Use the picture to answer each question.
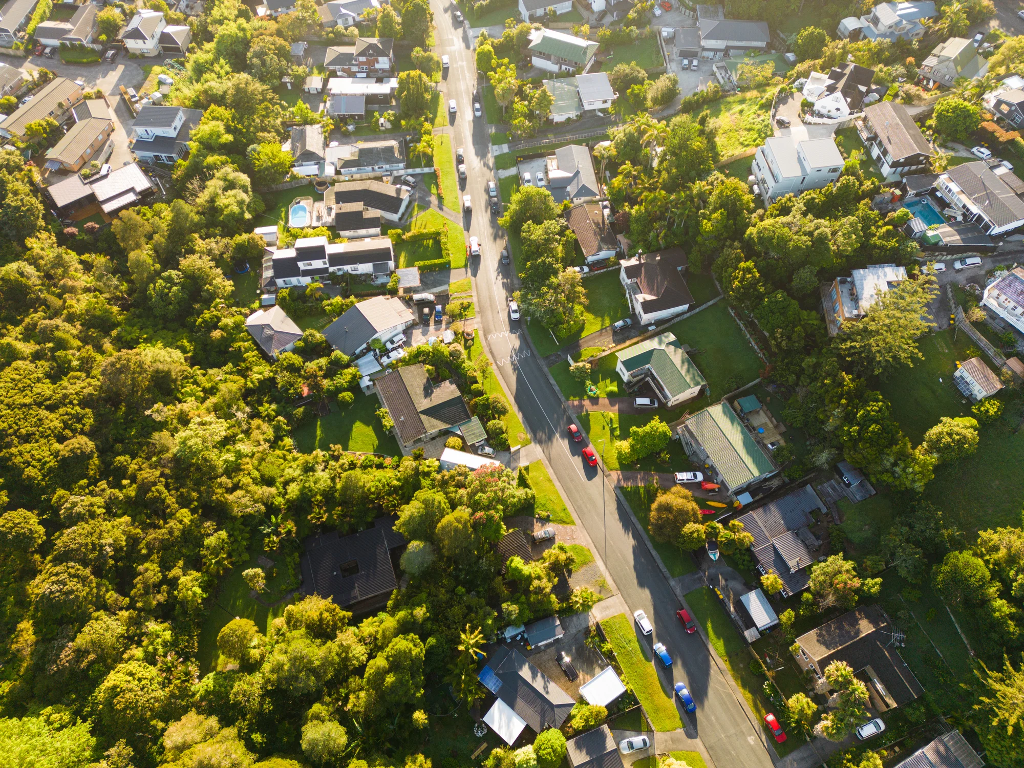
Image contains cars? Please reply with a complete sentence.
Yes, this view includes a car.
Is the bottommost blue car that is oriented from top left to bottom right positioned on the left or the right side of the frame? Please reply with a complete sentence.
You can find the bottommost blue car that is oriented from top left to bottom right on the right side of the picture.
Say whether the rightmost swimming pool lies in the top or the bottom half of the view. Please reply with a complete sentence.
Seen from above, the rightmost swimming pool lies in the top half of the view.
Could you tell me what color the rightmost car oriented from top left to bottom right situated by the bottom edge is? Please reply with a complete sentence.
In this view, the rightmost car oriented from top left to bottom right situated by the bottom edge is red.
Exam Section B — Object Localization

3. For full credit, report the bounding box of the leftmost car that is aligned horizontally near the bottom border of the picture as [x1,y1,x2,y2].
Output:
[620,736,649,751]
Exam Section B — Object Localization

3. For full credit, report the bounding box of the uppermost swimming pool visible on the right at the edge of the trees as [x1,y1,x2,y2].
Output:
[902,192,948,228]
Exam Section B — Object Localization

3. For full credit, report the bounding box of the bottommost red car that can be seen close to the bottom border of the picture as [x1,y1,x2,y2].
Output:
[763,713,786,742]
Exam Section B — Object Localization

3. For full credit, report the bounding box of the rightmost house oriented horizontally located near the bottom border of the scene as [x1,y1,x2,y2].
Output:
[894,729,985,768]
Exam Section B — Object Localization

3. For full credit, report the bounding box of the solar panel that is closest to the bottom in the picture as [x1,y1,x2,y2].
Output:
[478,666,502,694]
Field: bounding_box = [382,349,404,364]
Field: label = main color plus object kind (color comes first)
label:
white car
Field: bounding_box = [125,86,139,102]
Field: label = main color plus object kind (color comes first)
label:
white vehicle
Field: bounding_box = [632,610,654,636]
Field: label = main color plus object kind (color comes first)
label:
white car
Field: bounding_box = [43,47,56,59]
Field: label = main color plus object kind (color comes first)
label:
gray vehicle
